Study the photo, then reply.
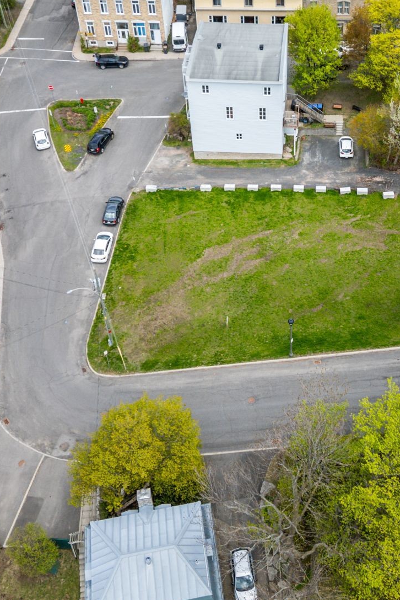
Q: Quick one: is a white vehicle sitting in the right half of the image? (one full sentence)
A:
Yes, a white vehicle shows up in the right half of the image.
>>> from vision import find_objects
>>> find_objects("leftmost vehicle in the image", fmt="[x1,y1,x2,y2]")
[29,124,51,149]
